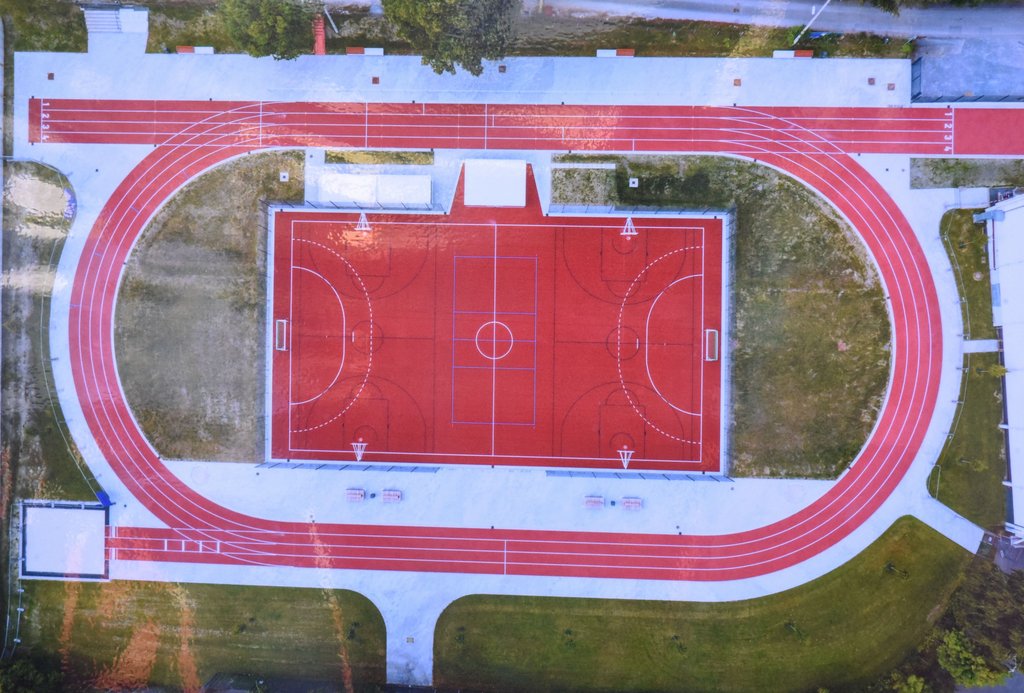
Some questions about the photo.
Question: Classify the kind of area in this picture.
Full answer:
The area seen from above is a sports ground.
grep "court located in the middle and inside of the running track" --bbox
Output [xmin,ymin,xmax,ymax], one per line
[265,163,729,477]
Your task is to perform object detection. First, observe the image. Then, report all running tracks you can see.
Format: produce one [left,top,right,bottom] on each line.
[28,98,1024,581]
